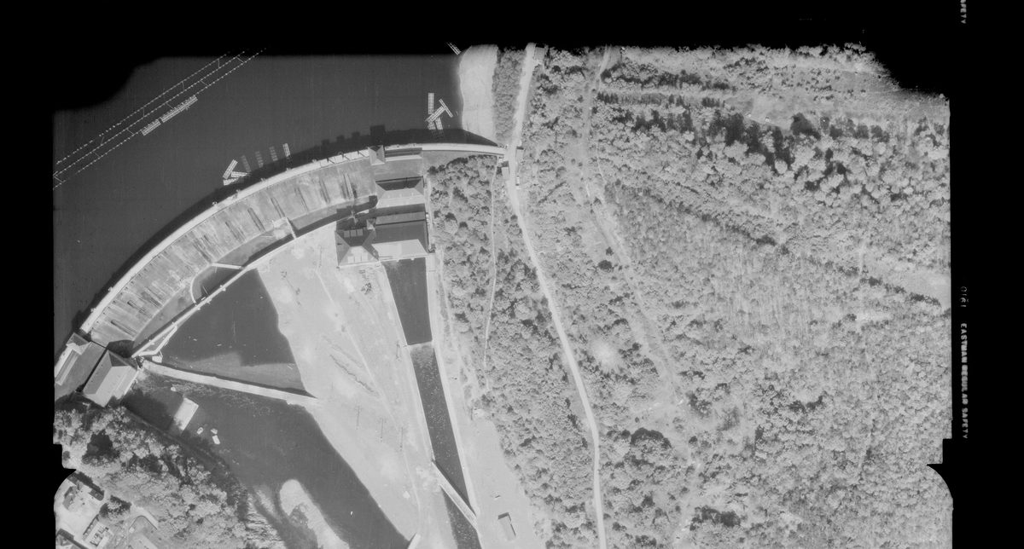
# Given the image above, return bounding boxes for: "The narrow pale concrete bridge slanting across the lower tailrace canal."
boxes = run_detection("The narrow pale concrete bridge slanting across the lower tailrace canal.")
[429,464,477,526]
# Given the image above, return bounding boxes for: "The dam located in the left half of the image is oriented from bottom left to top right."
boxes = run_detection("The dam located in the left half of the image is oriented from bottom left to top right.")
[14,140,510,427]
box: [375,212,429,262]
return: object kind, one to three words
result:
building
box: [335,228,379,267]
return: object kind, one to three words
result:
building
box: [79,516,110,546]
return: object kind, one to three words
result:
house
